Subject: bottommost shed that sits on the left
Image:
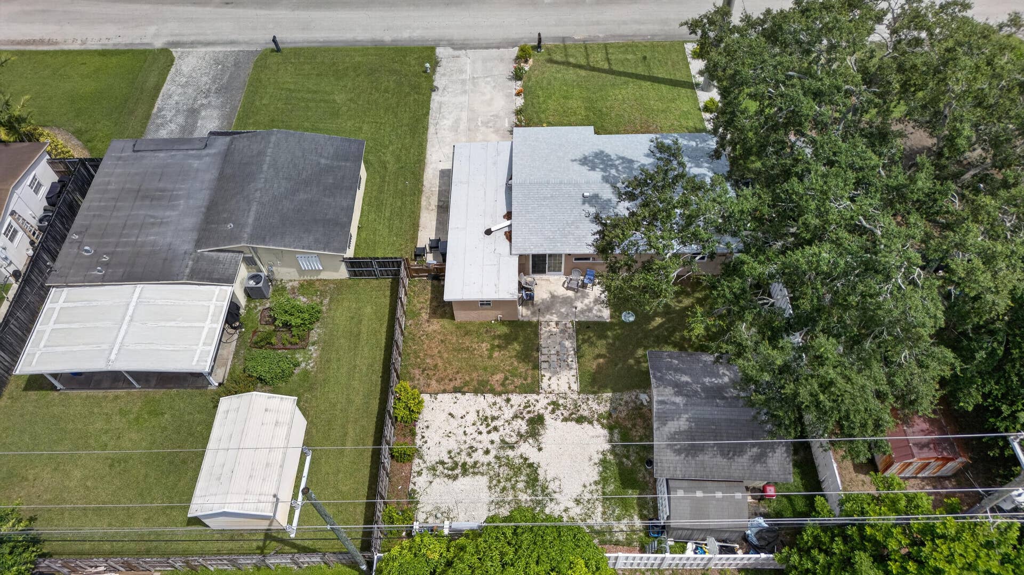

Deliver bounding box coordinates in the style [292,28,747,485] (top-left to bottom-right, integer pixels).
[186,391,306,528]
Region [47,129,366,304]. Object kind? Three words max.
house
